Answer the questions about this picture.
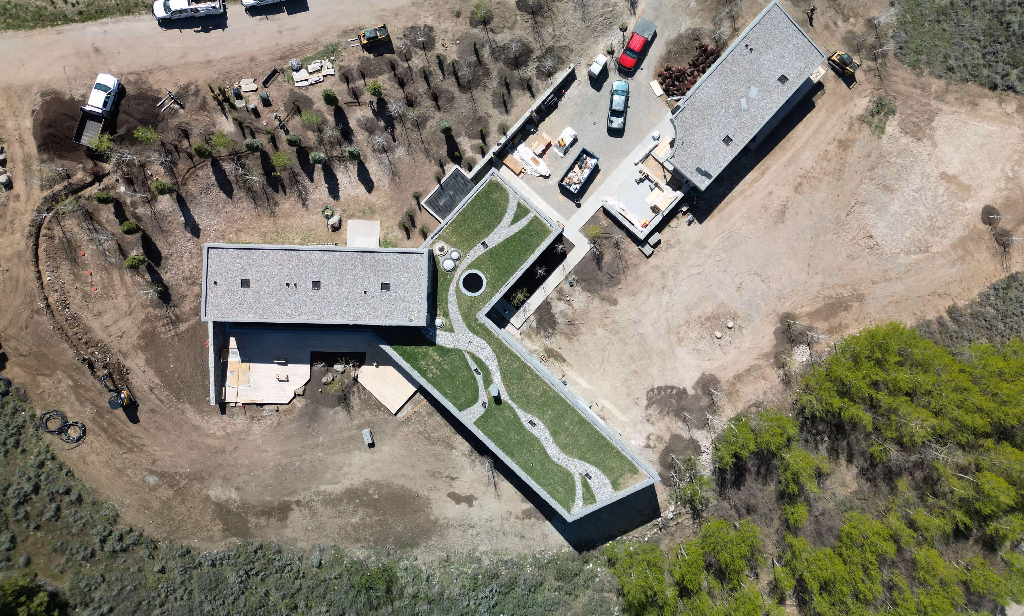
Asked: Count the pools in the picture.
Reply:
0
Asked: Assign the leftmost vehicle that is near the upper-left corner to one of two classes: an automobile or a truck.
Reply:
truck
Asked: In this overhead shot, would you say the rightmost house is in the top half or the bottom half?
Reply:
top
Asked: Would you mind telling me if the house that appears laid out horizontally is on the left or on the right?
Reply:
left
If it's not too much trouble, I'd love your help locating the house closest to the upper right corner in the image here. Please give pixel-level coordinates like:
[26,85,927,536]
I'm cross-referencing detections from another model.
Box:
[665,0,827,191]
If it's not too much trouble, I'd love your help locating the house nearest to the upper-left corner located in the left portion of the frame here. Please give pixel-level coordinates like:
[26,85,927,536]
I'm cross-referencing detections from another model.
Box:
[201,243,431,327]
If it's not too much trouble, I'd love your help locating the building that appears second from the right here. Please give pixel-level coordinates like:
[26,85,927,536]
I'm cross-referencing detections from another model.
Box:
[371,168,660,523]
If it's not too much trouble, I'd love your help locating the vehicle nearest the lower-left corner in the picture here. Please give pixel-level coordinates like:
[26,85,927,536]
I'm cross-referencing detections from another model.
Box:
[104,374,144,419]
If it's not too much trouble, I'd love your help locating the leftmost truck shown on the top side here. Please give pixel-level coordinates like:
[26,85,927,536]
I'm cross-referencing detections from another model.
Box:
[71,73,123,148]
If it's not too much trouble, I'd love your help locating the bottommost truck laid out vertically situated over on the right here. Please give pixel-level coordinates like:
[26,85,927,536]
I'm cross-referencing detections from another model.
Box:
[607,78,631,132]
